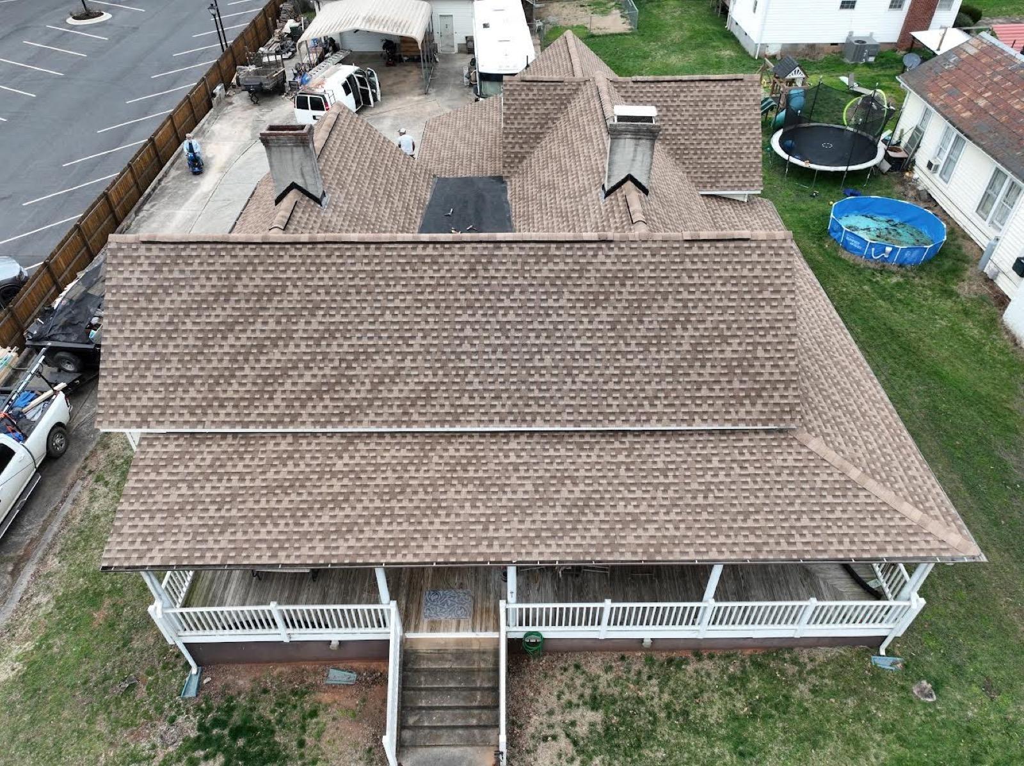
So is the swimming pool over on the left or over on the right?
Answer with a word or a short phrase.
right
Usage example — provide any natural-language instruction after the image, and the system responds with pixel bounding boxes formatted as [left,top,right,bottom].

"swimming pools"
[820,194,947,268]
